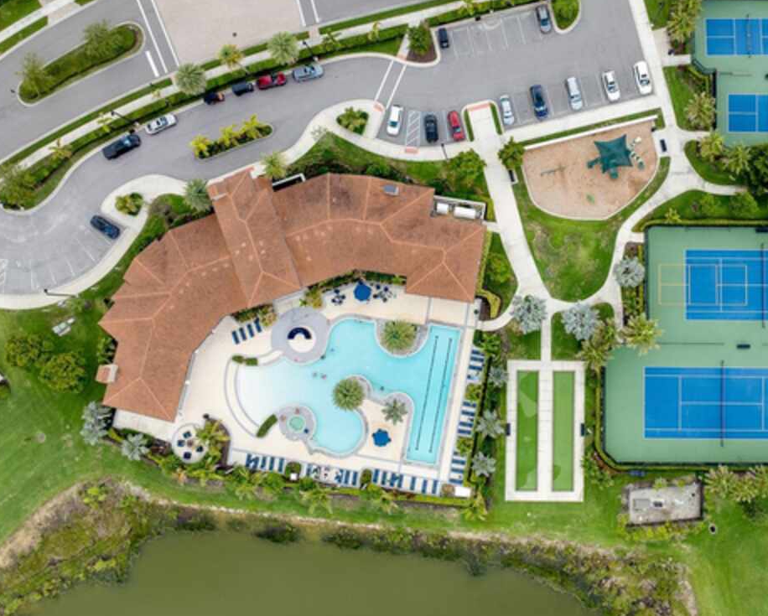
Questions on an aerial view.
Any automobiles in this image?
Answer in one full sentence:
Yes, an automobile is visible in the scene.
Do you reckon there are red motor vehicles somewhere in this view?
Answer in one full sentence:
Yes, I can see a red motor vehicle in this picture.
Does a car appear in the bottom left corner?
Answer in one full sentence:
No, I see no car in the bottom left corner.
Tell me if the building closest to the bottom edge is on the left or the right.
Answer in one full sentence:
The building closest to the bottom edge sits on the right side.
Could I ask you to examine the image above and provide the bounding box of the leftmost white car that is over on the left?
[144,114,176,134]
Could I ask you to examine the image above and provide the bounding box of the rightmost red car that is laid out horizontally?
[256,72,285,89]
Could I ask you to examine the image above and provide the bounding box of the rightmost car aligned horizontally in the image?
[291,63,324,80]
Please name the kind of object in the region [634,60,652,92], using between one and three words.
car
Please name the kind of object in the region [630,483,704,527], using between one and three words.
building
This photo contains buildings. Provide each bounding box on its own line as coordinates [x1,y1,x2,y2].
[630,483,704,527]
[94,167,487,423]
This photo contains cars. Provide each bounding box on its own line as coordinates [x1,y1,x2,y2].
[386,105,401,134]
[88,215,118,238]
[531,85,548,116]
[634,60,652,92]
[144,114,176,134]
[256,72,285,89]
[447,110,463,140]
[567,78,583,108]
[437,26,448,47]
[291,63,324,80]
[499,94,514,125]
[424,112,438,142]
[201,89,226,105]
[536,3,552,32]
[604,70,620,101]
[229,79,254,95]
